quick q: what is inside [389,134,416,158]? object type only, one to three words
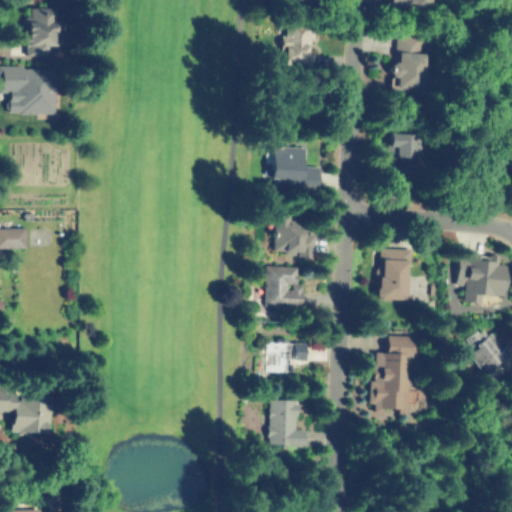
house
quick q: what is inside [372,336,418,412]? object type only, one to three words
house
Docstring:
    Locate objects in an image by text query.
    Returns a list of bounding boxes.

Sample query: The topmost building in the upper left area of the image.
[27,8,59,57]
